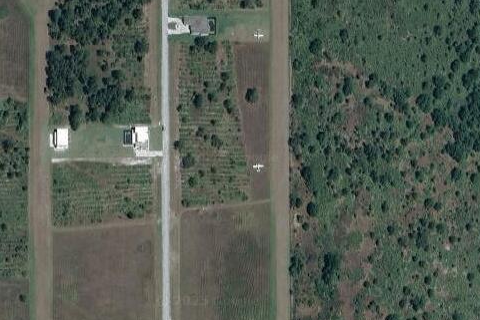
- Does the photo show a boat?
No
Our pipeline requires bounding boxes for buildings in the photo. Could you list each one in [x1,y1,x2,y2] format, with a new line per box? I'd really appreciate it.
[124,126,163,156]
[50,129,68,150]
[169,17,216,35]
